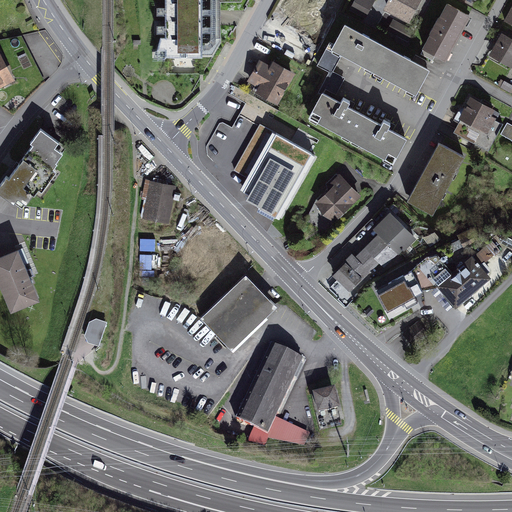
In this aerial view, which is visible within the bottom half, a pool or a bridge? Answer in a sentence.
What appears within the bottom half is a bridge.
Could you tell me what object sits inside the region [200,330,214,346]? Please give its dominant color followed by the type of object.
white vehicle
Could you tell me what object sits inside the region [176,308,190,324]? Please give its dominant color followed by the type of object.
white vehicle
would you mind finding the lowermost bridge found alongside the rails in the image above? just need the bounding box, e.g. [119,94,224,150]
[20,364,76,492]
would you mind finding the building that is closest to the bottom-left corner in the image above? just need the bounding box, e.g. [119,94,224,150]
[84,319,107,346]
